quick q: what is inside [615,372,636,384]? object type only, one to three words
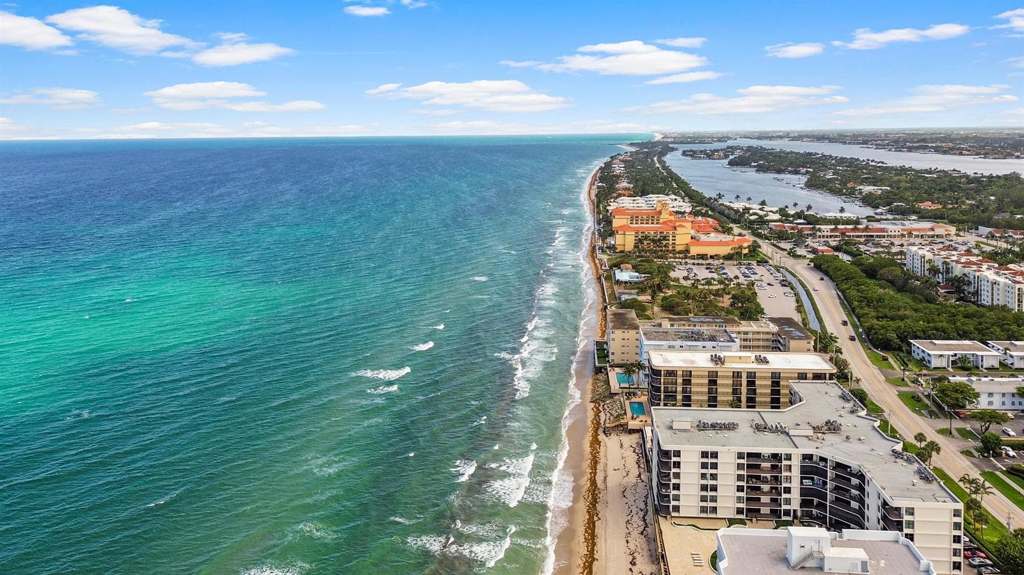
swimming pool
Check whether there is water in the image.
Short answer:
Yes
